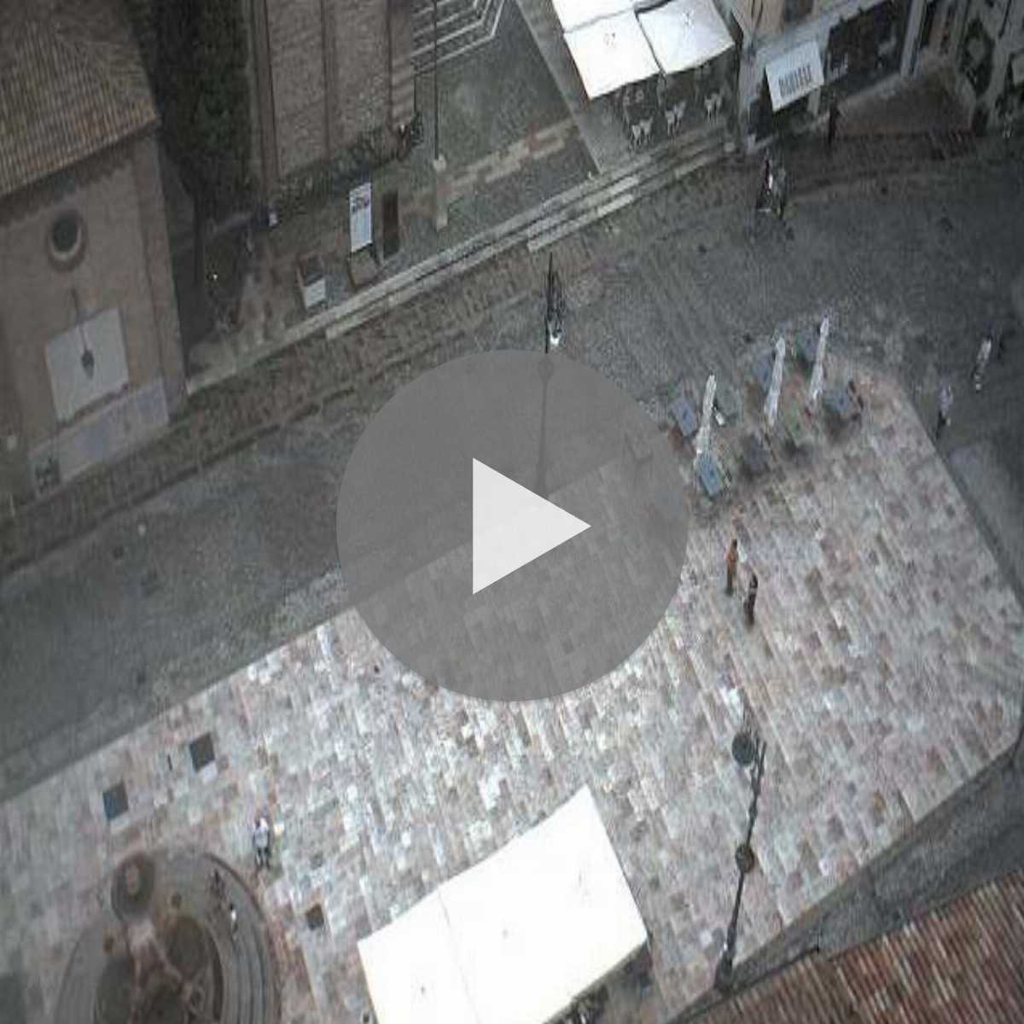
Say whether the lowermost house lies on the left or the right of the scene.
right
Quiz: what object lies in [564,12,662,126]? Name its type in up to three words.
umbrella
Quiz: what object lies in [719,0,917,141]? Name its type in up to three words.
building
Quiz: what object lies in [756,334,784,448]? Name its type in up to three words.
umbrella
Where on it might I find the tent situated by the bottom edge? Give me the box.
[358,789,647,1024]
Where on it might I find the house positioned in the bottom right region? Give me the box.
[678,869,1024,1024]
